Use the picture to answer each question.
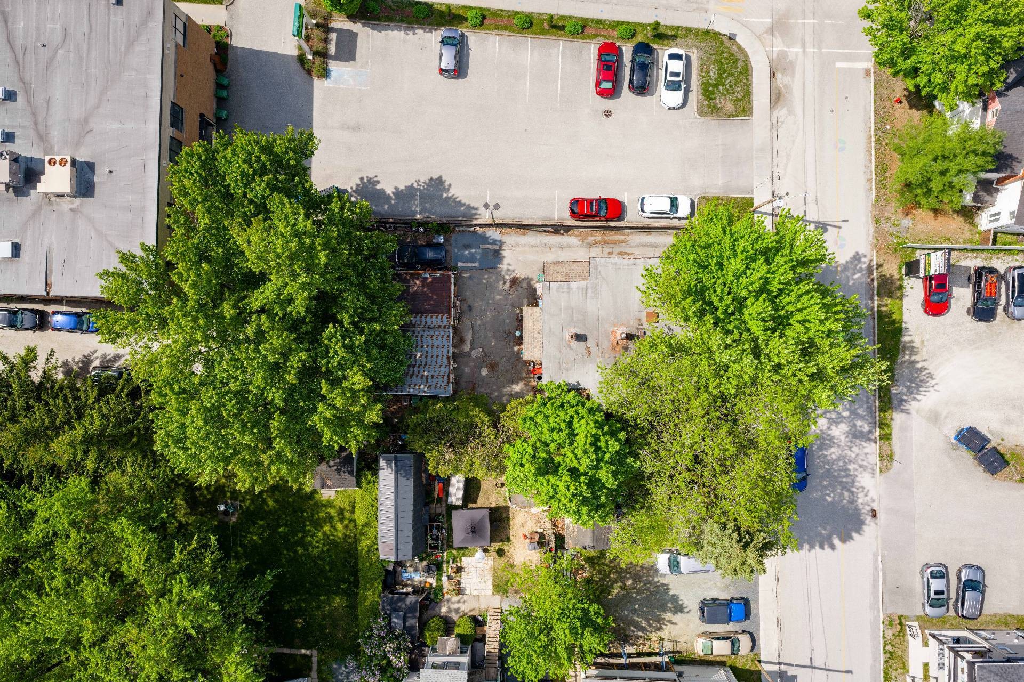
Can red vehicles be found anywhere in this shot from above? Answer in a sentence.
Yes, the picture does show a red vehicle.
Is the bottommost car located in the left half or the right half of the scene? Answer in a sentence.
The bottommost car is on the right side of the image.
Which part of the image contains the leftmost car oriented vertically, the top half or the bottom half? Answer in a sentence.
You can find the leftmost car oriented vertically in the top half.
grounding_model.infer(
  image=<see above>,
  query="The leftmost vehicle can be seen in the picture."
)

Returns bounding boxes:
[0,306,45,333]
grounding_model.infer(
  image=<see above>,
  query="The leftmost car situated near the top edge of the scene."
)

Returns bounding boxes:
[438,28,464,80]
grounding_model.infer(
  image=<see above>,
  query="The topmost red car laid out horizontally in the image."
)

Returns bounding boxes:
[568,195,622,222]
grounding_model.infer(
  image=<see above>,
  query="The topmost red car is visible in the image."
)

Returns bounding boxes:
[594,42,621,98]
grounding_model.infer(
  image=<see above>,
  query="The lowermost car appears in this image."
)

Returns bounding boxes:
[694,630,751,658]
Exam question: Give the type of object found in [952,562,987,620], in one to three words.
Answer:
car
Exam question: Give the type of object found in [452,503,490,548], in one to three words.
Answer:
gazebo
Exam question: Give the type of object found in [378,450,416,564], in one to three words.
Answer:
shed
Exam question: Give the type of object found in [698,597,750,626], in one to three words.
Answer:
car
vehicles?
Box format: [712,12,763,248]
[920,271,952,320]
[658,49,686,110]
[438,28,464,80]
[627,42,655,96]
[694,630,751,658]
[920,562,951,618]
[654,549,719,578]
[594,42,621,98]
[966,266,1000,319]
[637,192,691,219]
[0,306,45,333]
[784,441,813,495]
[50,309,105,335]
[698,597,750,626]
[568,195,622,222]
[1003,265,1024,321]
[952,562,987,620]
